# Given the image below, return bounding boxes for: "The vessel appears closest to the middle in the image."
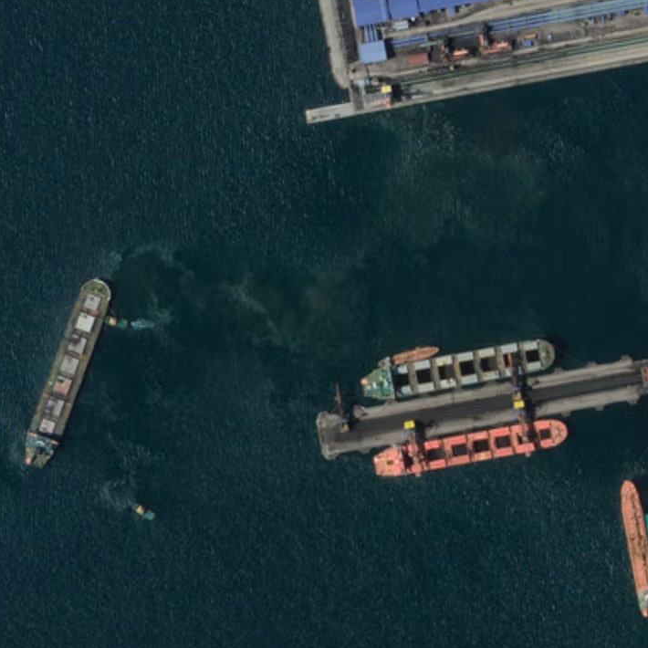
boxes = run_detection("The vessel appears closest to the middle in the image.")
[381,348,441,366]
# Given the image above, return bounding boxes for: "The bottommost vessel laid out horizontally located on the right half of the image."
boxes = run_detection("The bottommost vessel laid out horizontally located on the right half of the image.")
[373,421,568,478]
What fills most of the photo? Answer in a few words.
water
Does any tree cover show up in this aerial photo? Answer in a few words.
No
